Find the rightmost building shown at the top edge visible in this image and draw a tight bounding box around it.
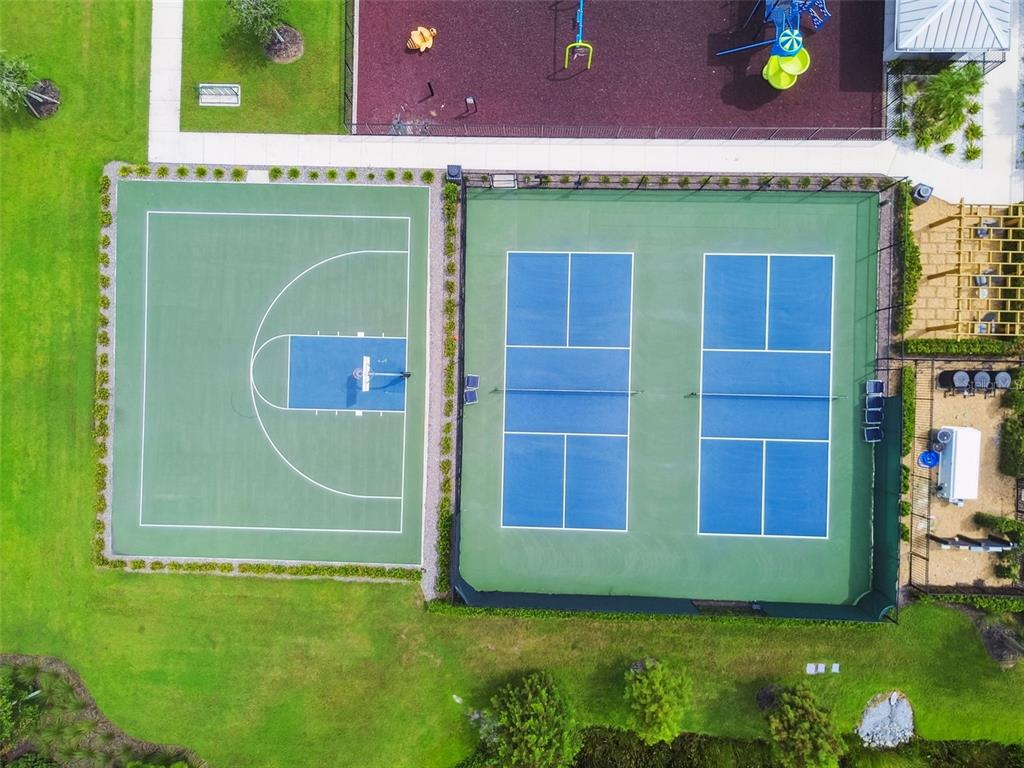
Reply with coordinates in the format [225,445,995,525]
[886,0,1011,62]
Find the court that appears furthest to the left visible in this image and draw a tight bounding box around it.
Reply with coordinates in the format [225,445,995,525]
[110,178,431,567]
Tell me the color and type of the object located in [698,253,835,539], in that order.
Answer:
blue sports court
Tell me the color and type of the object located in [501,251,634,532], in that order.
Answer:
blue sports court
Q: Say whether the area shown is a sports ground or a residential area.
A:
sports ground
